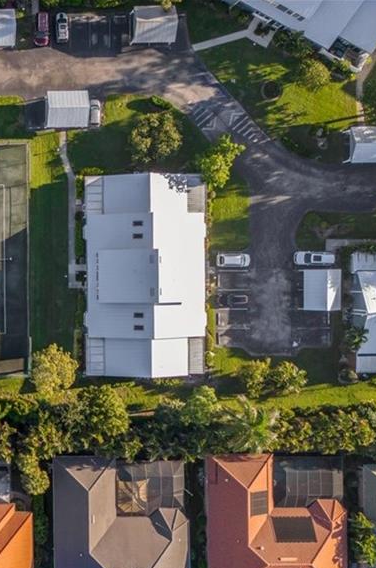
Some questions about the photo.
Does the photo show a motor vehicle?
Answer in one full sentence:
Yes, a motor vehicle can be made out from above.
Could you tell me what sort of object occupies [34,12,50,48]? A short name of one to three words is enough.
car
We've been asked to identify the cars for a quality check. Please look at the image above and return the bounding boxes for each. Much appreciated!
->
[34,12,50,48]
[294,251,335,267]
[89,97,103,129]
[55,12,70,45]
[214,252,249,268]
